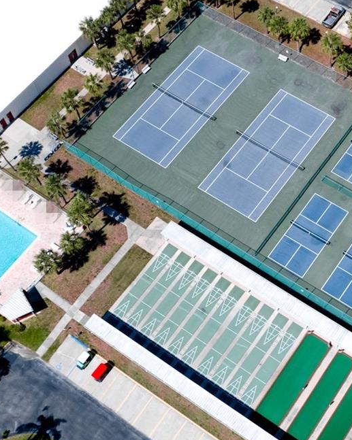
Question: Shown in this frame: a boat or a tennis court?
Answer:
tennis court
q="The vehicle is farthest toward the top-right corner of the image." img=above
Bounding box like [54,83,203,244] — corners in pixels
[319,4,345,28]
